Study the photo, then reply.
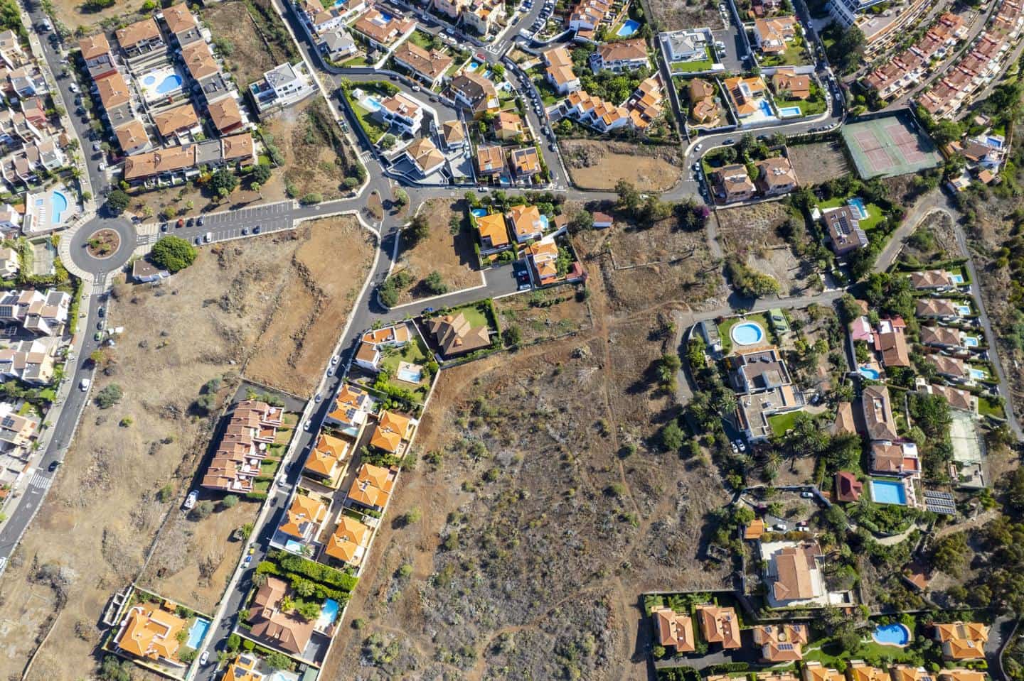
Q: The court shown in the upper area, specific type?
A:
tennis court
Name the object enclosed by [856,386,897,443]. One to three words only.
house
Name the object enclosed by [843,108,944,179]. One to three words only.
tennis court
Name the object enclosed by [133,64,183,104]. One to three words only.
swimming pool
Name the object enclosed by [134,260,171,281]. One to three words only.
house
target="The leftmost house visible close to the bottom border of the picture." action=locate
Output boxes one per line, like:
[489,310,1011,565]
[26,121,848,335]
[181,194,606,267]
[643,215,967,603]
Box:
[123,609,192,661]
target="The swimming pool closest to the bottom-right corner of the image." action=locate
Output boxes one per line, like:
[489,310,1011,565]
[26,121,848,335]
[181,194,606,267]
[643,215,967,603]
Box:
[872,623,910,647]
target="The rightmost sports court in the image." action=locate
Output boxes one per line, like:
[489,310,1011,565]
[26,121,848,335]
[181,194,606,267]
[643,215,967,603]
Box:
[949,412,981,463]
